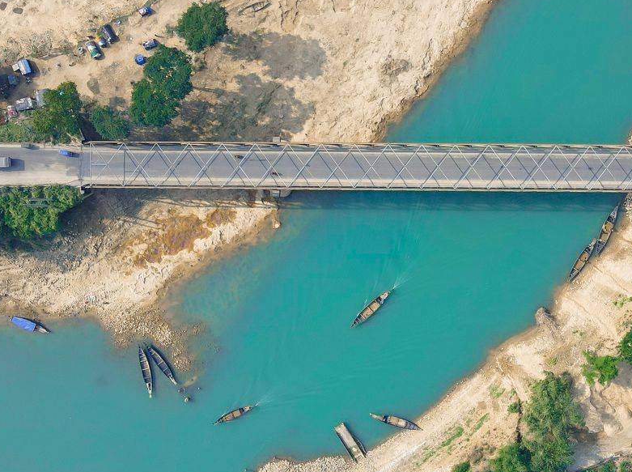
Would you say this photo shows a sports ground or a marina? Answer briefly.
marina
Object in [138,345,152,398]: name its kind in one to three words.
boat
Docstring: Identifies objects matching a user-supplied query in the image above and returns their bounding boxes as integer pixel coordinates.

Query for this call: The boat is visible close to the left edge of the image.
[8,317,49,333]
